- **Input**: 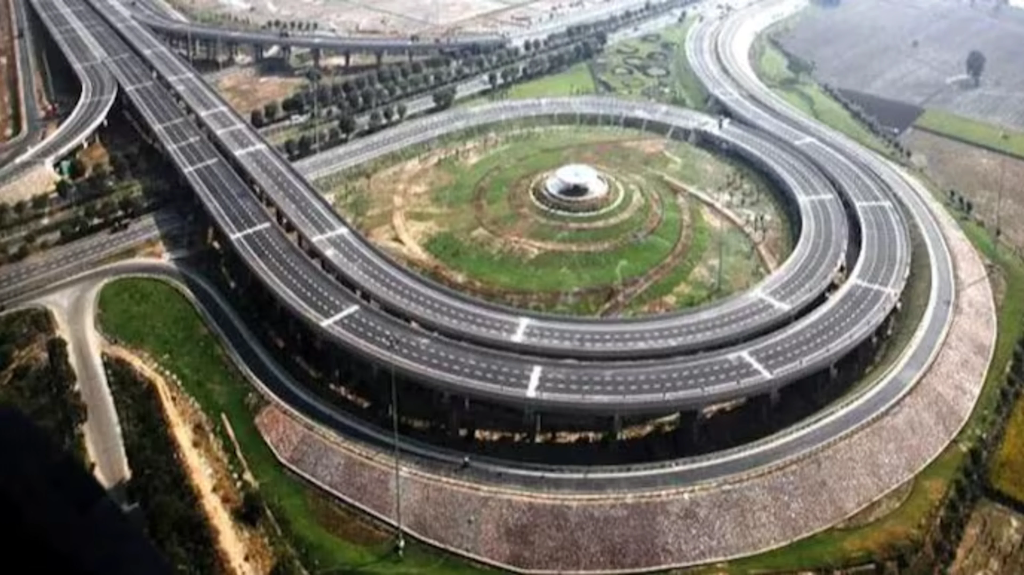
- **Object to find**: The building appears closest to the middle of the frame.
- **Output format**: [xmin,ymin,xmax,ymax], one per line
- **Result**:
[540,172,618,212]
